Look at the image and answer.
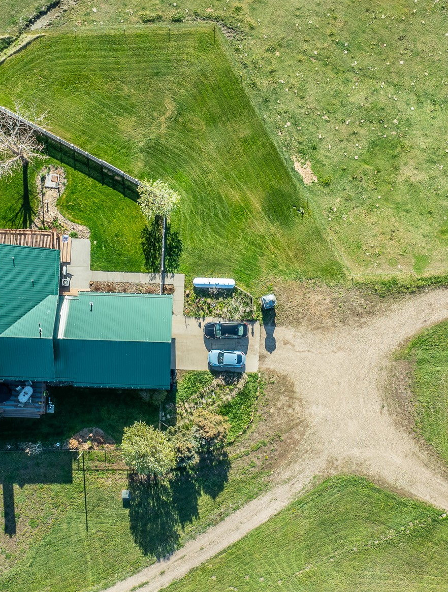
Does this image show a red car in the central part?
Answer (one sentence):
No, no red car appears in the central part.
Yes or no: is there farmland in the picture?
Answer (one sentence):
Yes, some farmland is visible.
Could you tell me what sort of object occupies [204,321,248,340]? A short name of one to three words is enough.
car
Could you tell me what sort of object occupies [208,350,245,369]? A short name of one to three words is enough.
car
